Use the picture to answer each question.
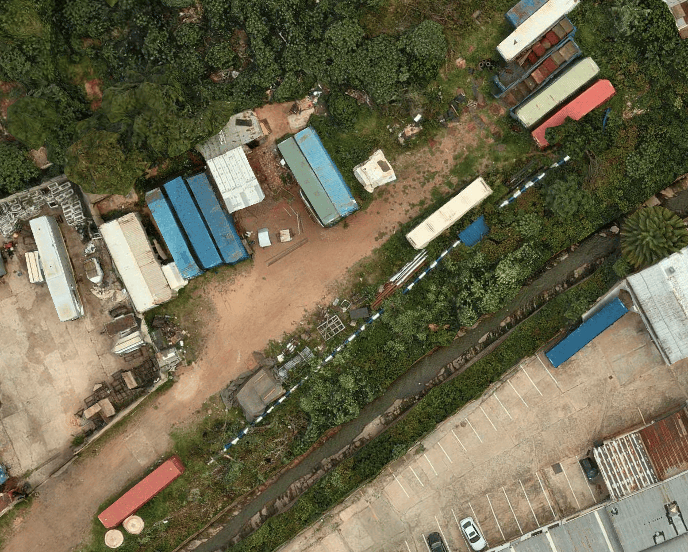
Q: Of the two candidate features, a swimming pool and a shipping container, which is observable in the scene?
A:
shipping container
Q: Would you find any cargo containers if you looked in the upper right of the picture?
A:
Yes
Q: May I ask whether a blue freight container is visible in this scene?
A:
Yes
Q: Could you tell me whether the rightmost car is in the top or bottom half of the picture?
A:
bottom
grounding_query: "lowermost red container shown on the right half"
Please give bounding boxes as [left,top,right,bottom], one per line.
[533,79,616,149]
